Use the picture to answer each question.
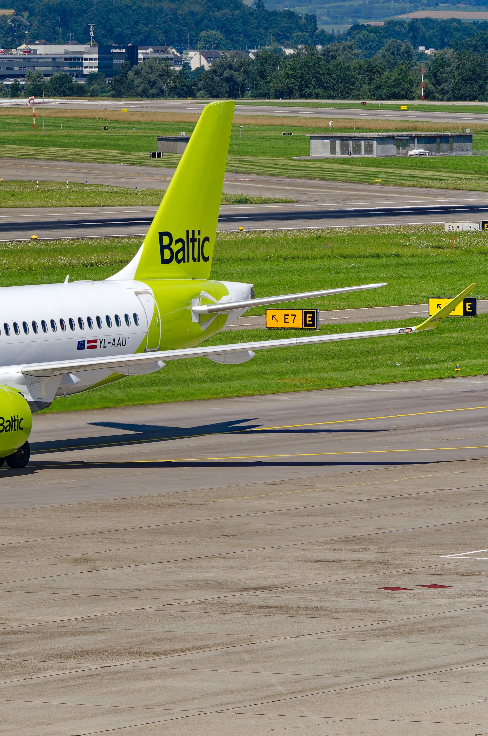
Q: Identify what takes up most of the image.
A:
paved ground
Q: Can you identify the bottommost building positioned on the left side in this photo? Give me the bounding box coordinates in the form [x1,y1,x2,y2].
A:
[155,131,191,153]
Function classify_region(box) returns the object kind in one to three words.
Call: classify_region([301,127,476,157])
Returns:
building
